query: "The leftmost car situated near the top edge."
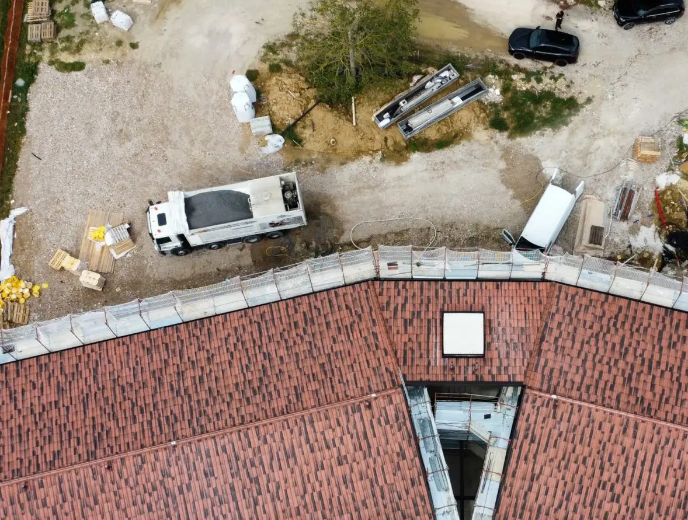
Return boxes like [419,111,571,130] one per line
[506,24,582,67]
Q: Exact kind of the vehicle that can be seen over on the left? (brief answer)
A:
truck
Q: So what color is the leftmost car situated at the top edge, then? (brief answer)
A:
black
